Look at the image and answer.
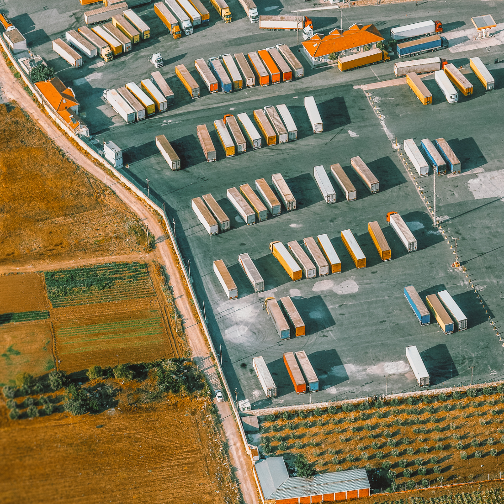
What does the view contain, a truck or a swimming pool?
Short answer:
truck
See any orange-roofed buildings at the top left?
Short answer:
Yes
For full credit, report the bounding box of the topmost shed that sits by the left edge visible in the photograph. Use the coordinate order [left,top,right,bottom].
[4,28,26,53]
